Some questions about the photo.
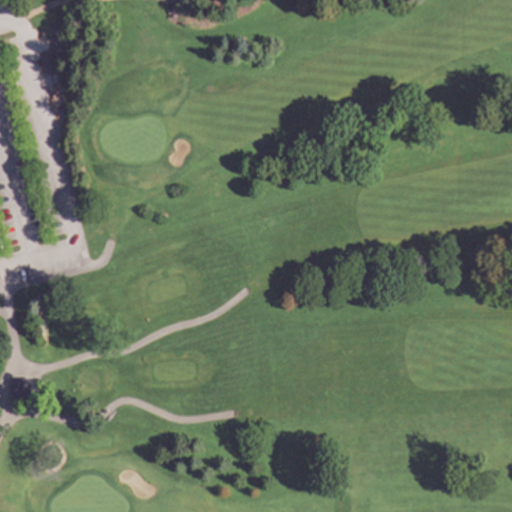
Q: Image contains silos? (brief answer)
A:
No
